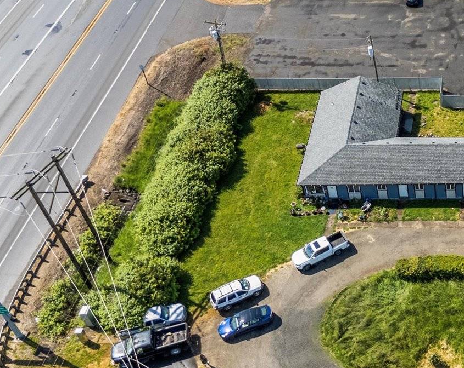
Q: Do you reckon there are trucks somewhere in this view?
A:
Yes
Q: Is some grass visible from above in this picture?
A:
Yes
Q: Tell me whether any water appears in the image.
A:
No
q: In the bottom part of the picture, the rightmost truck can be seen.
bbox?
[286,229,352,273]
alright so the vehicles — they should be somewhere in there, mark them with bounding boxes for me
[207,271,267,314]
[405,0,419,8]
[108,322,186,368]
[286,229,352,273]
[130,298,193,330]
[216,301,279,342]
